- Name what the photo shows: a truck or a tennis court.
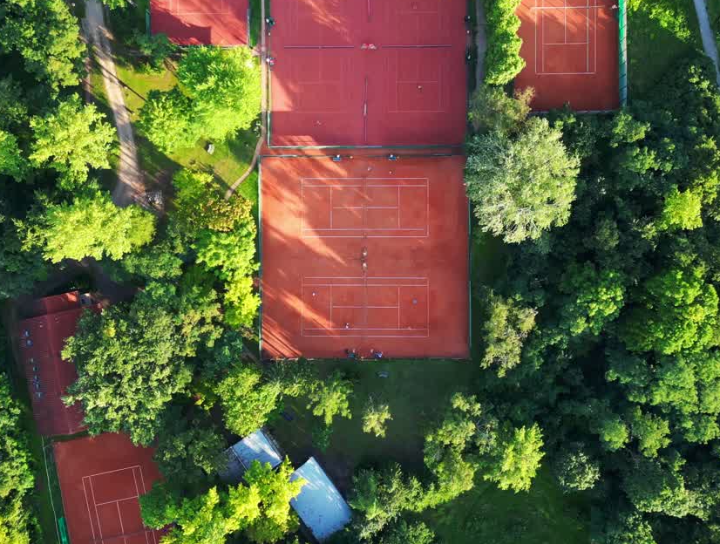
tennis court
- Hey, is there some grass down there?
Yes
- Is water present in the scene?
No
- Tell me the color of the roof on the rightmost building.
blue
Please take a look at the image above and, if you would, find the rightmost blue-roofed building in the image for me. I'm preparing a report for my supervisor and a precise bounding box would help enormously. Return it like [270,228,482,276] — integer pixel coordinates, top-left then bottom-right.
[292,456,354,539]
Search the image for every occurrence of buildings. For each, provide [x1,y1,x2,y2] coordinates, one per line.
[23,286,111,433]
[231,428,283,474]
[292,456,354,539]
